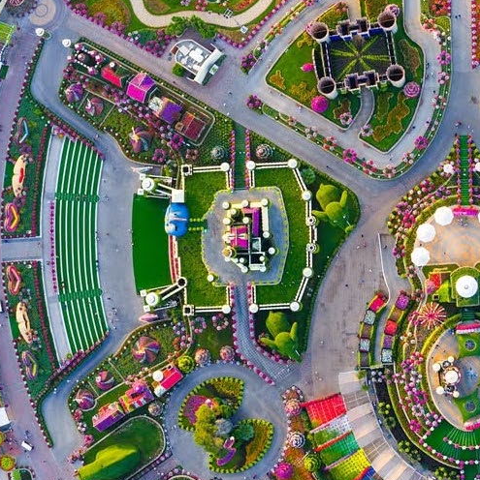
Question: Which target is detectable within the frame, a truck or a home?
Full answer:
This aerial view contains a home.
